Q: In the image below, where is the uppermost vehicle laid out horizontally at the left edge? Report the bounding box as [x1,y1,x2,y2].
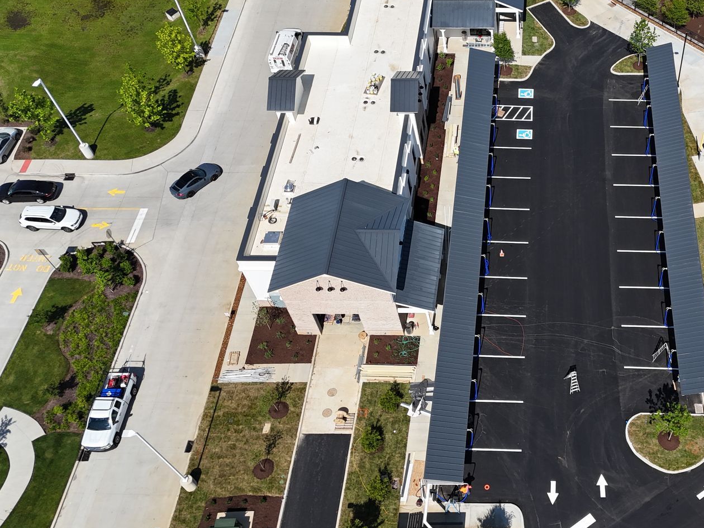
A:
[0,178,60,205]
